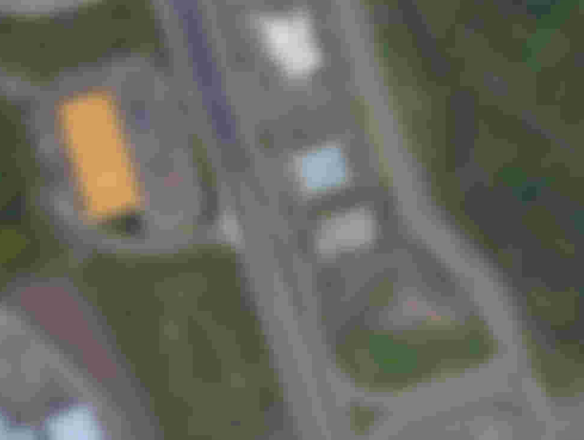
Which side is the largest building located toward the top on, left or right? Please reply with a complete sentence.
You can find the largest building located toward the top on the left side of the picture.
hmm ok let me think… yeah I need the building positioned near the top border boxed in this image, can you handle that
[262,12,323,78]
